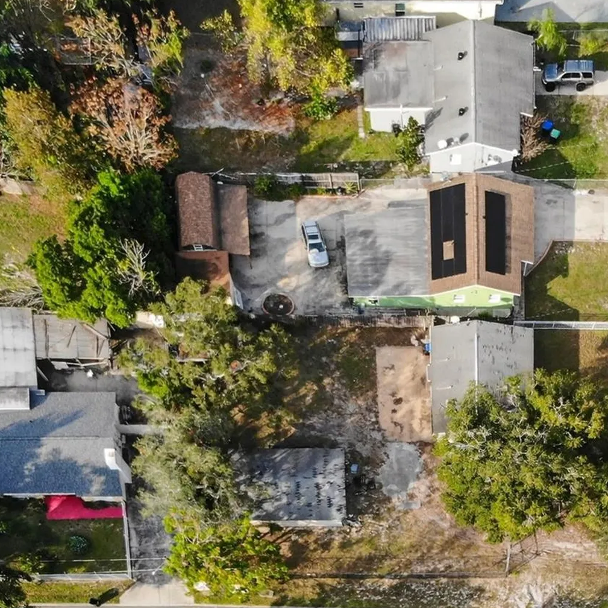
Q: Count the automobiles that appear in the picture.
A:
2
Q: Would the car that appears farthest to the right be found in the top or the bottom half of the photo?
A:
top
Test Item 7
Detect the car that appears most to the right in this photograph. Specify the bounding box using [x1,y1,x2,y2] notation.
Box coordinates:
[544,60,596,93]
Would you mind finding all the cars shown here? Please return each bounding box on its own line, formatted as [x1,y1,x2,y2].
[544,60,596,93]
[301,217,330,271]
